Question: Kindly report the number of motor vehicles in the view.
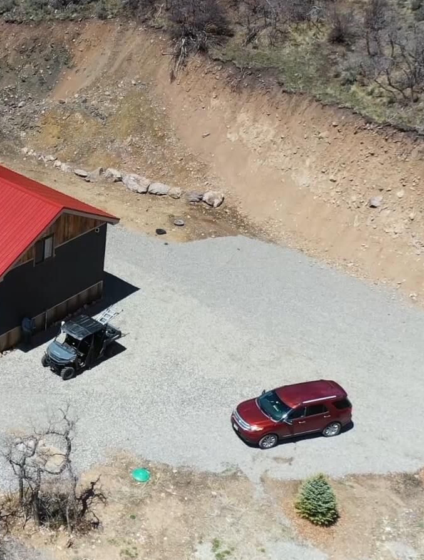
two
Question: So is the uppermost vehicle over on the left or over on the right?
left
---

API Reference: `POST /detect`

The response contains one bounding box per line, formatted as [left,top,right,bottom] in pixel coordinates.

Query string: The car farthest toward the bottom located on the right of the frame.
[226,377,356,451]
